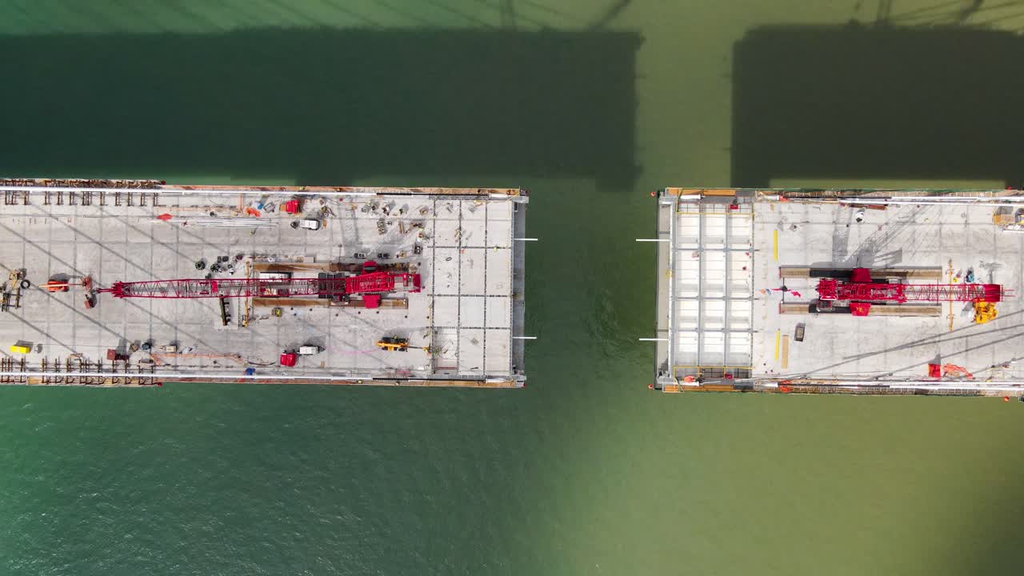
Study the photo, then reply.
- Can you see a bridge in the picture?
Yes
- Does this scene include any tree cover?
No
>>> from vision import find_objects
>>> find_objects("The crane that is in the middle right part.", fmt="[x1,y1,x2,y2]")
[750,269,1015,315]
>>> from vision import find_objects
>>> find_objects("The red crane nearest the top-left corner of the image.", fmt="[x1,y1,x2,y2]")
[99,261,431,307]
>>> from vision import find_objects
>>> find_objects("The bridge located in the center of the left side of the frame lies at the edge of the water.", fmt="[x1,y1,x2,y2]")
[0,181,538,388]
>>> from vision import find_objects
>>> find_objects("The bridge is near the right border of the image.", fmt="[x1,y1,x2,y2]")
[636,187,1024,399]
